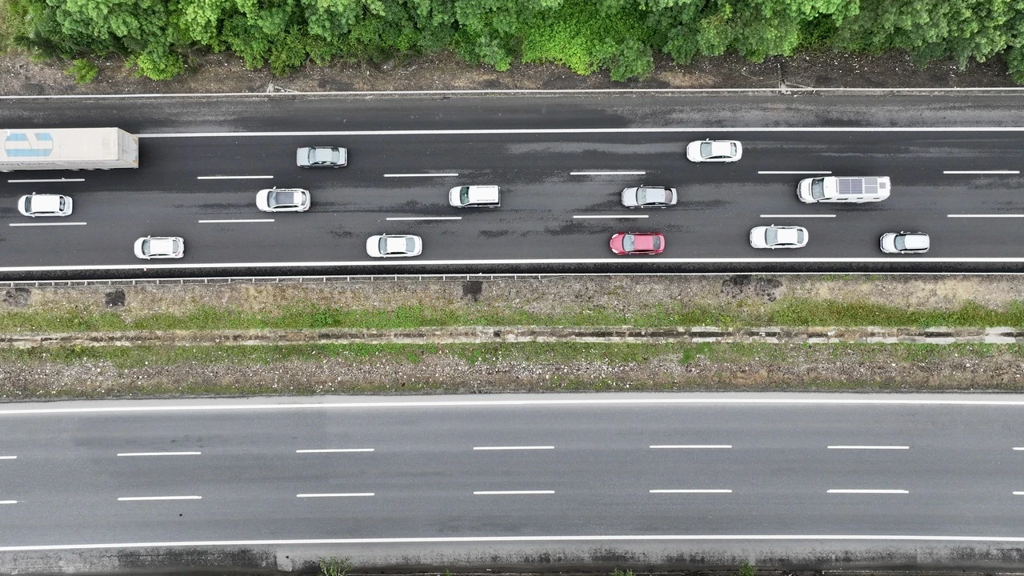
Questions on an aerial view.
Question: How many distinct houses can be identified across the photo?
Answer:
0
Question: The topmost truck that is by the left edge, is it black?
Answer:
No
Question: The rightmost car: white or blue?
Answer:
white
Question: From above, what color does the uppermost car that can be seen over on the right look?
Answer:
white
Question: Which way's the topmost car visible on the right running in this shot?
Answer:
from side to side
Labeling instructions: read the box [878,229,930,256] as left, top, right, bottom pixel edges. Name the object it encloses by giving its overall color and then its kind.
white car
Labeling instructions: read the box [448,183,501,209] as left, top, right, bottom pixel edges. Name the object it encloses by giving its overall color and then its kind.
white car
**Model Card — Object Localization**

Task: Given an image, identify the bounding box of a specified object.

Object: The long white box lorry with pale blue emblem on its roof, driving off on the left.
[0,127,141,172]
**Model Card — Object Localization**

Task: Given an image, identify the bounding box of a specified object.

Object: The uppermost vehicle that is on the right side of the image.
[685,137,743,164]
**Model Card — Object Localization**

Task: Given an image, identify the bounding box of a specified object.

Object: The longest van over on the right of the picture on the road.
[795,175,889,205]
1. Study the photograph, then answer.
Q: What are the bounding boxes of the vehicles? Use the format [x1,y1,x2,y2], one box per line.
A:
[17,191,76,217]
[134,234,187,260]
[748,223,809,250]
[255,185,312,213]
[878,229,930,256]
[608,230,665,256]
[296,143,349,169]
[0,127,141,172]
[621,183,678,210]
[795,175,889,205]
[366,232,423,259]
[448,183,501,209]
[685,137,743,164]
